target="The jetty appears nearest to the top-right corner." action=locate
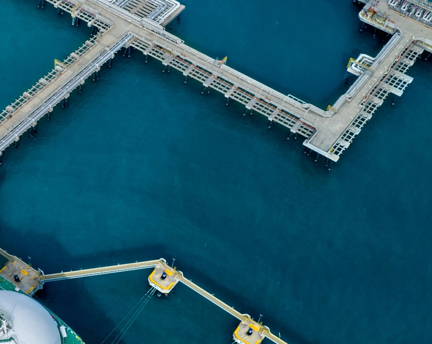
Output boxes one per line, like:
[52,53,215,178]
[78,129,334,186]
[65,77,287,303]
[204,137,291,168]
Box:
[302,38,425,171]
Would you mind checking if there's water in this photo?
Yes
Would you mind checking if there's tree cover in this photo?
No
